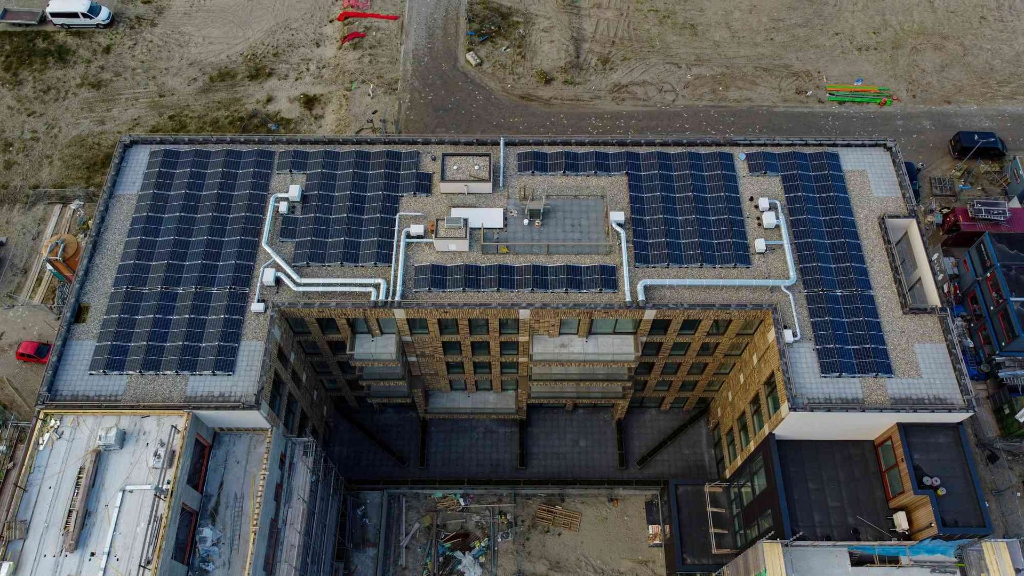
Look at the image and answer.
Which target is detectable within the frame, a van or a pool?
van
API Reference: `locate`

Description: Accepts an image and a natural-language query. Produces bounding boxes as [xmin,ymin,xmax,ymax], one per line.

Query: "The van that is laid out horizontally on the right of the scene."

[947,127,1009,157]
